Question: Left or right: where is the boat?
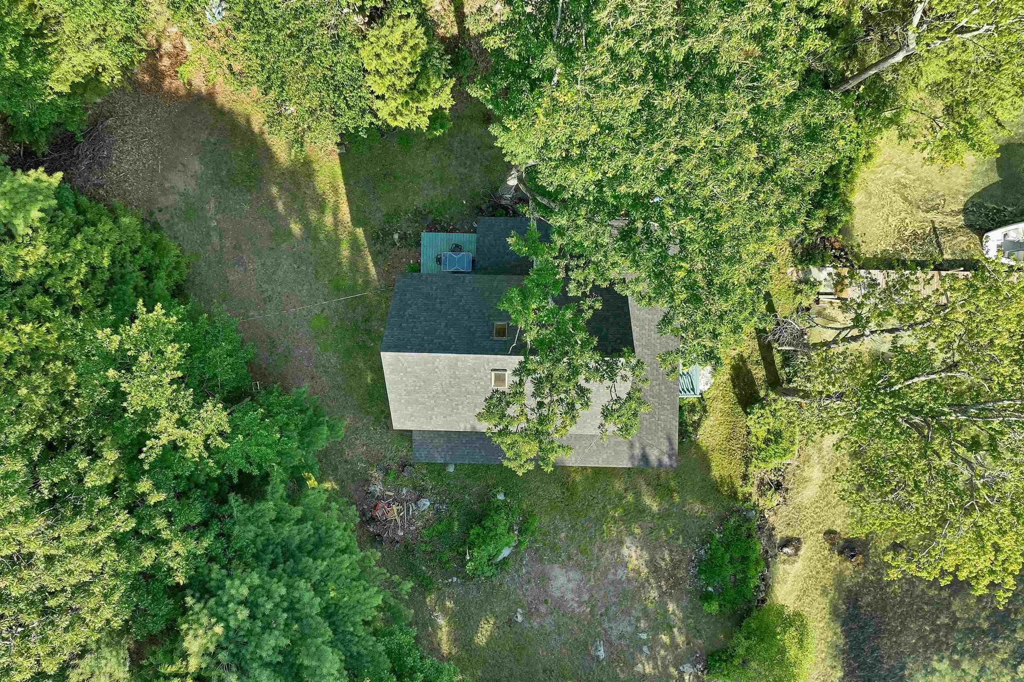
right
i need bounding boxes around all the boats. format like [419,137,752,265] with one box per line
[988,218,1024,262]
